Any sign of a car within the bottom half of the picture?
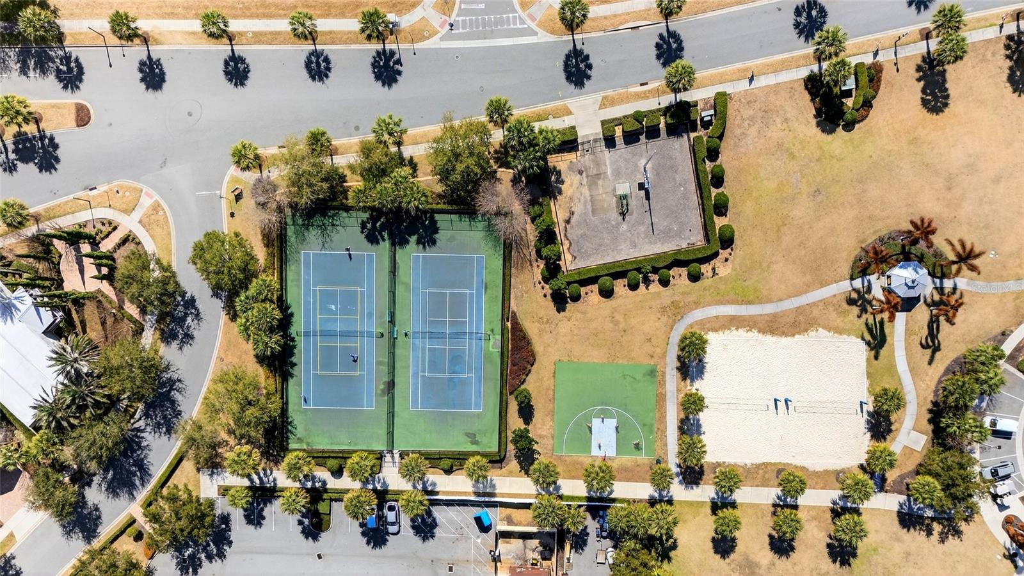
Yes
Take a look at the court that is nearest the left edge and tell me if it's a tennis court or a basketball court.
tennis court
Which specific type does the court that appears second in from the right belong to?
basketball court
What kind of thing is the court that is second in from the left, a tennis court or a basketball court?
tennis court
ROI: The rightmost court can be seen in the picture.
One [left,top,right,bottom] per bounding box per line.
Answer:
[693,326,869,471]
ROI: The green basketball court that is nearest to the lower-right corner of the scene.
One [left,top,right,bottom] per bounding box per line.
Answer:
[554,362,657,458]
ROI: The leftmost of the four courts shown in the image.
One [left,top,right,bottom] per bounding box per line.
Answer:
[285,209,389,450]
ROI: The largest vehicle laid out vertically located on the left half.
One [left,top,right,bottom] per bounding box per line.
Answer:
[383,501,399,535]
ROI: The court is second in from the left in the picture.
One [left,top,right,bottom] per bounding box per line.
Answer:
[393,212,504,452]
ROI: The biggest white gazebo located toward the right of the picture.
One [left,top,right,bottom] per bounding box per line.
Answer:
[881,261,927,299]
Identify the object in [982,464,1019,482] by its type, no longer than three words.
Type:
car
